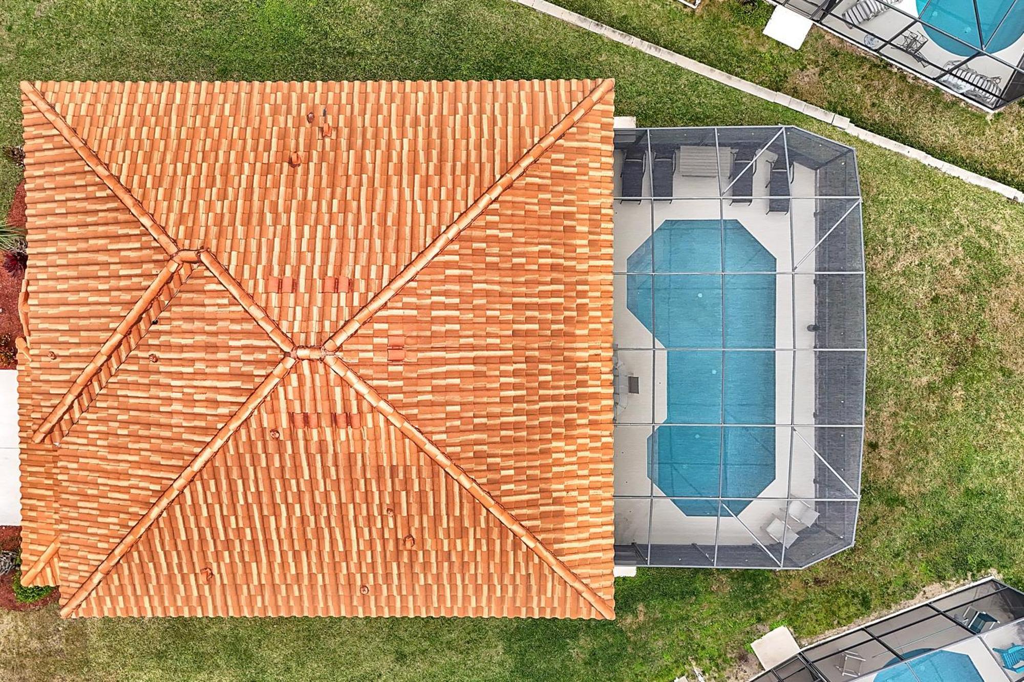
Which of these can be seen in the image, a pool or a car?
pool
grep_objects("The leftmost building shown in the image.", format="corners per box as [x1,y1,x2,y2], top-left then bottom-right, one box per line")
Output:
[15,75,618,623]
